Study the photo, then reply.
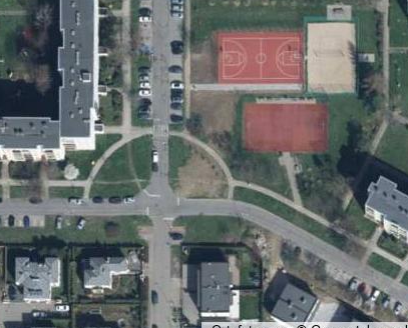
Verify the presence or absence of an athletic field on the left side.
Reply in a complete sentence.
No, the scene shows no athletic field on the left side.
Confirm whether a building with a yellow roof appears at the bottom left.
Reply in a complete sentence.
No, at the bottom left there is no building with a yellow roof.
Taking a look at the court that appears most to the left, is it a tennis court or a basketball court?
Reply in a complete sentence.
I'd identify the court that appears most to the left as a basketball court.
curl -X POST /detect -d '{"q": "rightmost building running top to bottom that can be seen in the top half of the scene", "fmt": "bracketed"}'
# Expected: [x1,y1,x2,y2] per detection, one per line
[58,0,103,148]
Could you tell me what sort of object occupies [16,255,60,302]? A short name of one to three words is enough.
house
